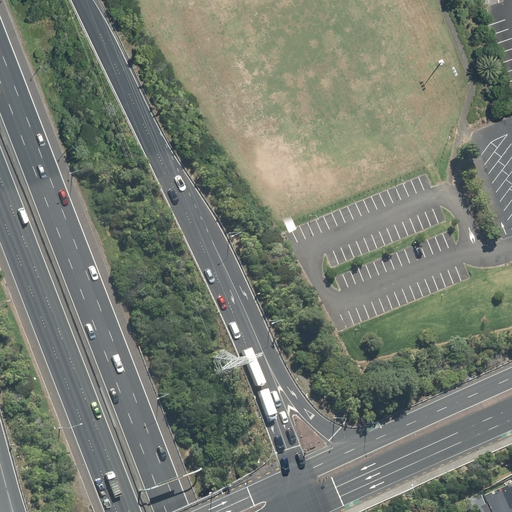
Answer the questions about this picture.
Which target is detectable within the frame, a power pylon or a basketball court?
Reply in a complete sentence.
This aerial view contains a power pylon.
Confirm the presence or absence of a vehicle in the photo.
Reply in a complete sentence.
Yes, a vehicle appears in the view.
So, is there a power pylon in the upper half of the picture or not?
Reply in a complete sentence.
No, no power pylon can be made out in the upper half of the picture.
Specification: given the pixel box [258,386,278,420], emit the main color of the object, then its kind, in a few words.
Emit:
white vehicle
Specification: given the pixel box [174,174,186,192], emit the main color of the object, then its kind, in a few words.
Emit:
white vehicle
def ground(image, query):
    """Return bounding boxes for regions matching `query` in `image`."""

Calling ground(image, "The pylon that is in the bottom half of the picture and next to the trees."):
[210,348,264,374]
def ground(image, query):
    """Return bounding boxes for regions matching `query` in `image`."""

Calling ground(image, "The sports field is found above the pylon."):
[140,0,466,222]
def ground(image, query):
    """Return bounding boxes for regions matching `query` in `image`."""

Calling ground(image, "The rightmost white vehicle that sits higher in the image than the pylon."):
[229,321,241,340]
